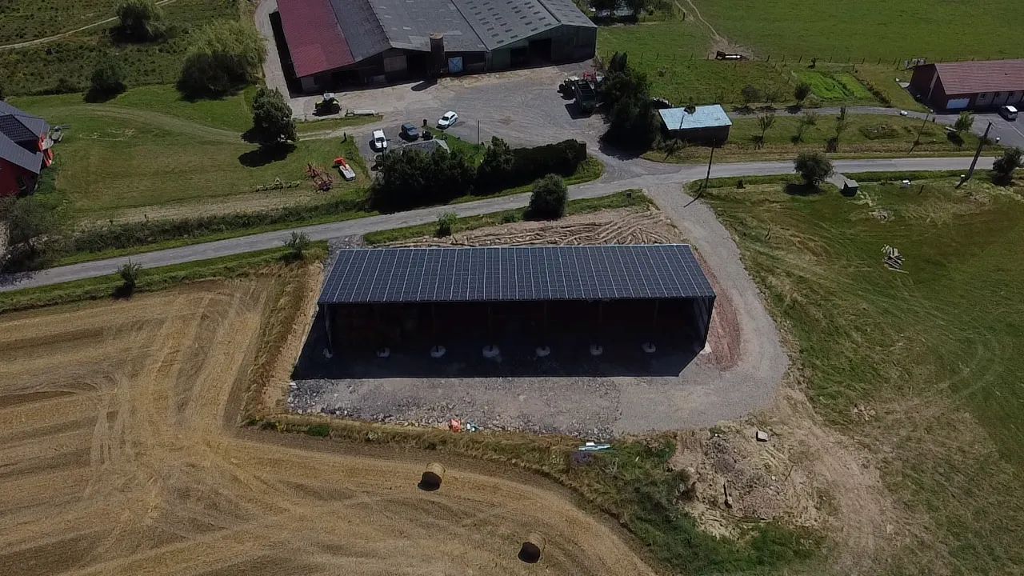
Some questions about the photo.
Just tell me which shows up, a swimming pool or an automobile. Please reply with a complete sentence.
This aerial view contains an automobile.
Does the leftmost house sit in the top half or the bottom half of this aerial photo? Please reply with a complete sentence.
Seen from above, the leftmost house lies in the top half of the view.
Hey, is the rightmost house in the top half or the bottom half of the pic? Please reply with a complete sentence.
The rightmost house is in the top half of the image.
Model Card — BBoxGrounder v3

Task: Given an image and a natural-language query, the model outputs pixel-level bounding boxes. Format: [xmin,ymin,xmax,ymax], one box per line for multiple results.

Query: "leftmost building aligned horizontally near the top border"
[273,0,491,93]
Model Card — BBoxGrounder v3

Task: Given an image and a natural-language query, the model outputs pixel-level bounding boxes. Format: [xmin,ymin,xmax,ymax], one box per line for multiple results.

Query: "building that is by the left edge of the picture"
[0,101,56,193]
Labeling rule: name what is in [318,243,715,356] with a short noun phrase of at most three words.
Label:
shed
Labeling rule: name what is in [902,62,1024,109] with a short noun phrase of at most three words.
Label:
house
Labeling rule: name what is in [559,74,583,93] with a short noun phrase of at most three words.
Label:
work vehicle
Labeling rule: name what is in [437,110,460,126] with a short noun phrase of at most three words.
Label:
car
